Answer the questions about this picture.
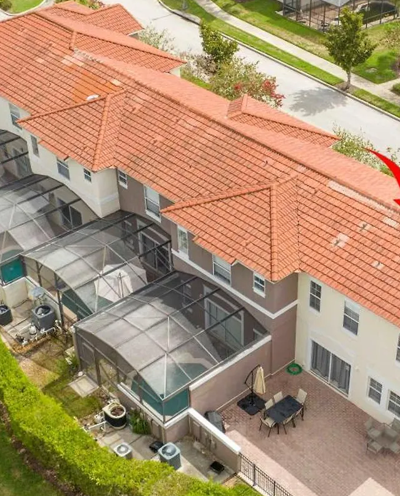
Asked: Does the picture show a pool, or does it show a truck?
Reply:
pool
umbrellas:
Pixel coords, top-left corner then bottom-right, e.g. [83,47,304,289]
[84,266,143,308]
[240,365,269,414]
